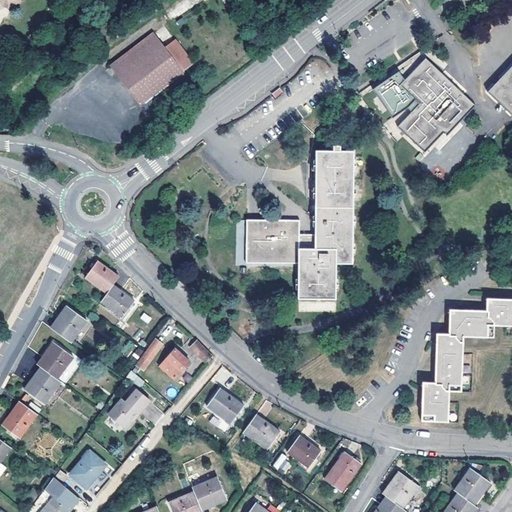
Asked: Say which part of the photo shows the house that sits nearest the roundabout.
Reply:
left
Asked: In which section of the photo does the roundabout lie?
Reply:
left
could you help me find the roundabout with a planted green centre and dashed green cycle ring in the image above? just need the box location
[56,167,130,240]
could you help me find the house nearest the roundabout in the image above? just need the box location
[85,260,118,293]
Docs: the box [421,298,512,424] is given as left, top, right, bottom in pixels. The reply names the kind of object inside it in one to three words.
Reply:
building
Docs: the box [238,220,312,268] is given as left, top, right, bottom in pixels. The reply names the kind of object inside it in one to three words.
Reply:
building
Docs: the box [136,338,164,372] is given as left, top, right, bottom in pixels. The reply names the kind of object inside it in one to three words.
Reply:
shed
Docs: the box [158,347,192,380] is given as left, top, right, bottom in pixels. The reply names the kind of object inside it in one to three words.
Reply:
house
